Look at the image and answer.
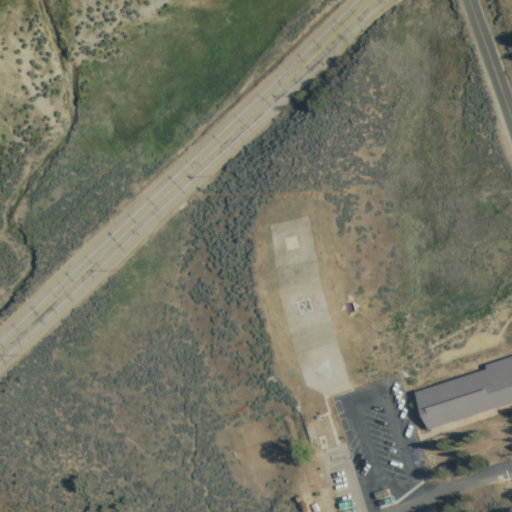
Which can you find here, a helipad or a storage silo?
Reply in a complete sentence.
This aerial view contains a helipad.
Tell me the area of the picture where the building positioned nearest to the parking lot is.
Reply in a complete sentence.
You can find the building positioned nearest to the parking lot in the bottom right area of the picture.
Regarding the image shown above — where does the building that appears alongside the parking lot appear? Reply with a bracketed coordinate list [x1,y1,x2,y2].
[416,356,512,430]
